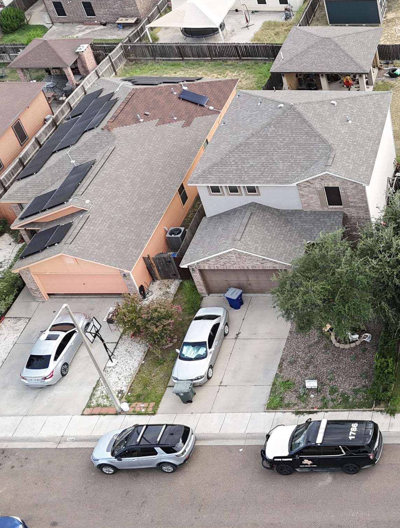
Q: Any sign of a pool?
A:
No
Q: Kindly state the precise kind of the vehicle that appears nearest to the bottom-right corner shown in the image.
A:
car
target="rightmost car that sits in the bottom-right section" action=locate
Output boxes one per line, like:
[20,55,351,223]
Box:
[258,416,384,475]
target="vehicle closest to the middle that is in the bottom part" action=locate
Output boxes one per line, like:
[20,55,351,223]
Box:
[172,312,229,390]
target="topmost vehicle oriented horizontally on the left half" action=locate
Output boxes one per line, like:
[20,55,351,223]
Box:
[86,421,197,475]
